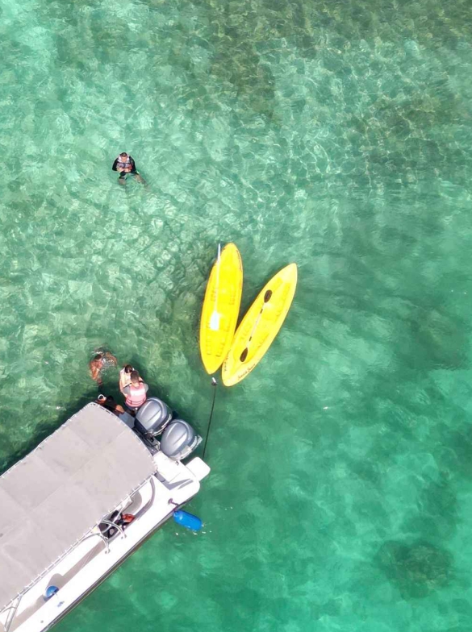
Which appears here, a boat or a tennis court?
boat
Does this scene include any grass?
No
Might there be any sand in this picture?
No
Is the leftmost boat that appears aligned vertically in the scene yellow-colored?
Yes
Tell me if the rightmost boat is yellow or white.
yellow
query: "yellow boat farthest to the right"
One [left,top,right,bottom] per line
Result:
[225,261,300,387]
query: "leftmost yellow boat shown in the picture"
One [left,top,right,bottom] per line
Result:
[200,241,245,374]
